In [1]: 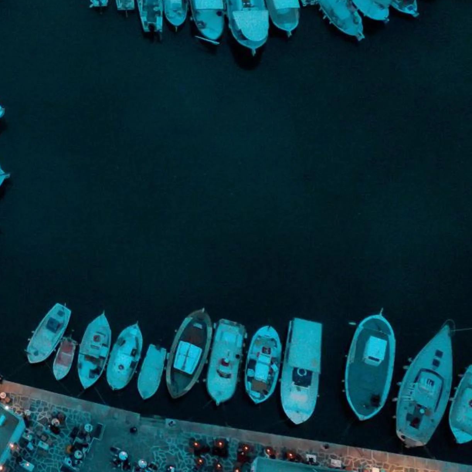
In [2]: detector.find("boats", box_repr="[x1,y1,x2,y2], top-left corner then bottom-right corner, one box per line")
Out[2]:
[134,342,168,417]
[386,0,421,22]
[166,309,211,426]
[393,324,469,463]
[318,0,367,42]
[138,0,163,40]
[280,316,326,439]
[54,334,76,395]
[349,0,391,25]
[91,0,110,12]
[109,323,143,410]
[448,364,472,471]
[263,0,301,41]
[77,291,112,401]
[239,314,282,432]
[206,311,246,424]
[163,0,188,31]
[115,0,135,16]
[188,0,228,48]
[225,0,268,57]
[341,308,396,454]
[11,290,74,386]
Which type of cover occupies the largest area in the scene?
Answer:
water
